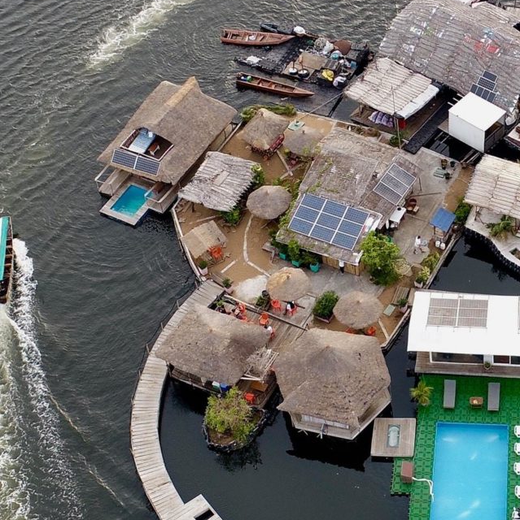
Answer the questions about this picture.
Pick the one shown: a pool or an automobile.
pool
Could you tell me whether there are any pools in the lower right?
Yes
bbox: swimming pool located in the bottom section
[430,422,510,520]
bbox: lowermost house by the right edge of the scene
[407,292,520,379]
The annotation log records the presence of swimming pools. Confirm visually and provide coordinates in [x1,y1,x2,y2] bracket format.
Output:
[430,422,510,520]
[110,185,154,219]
